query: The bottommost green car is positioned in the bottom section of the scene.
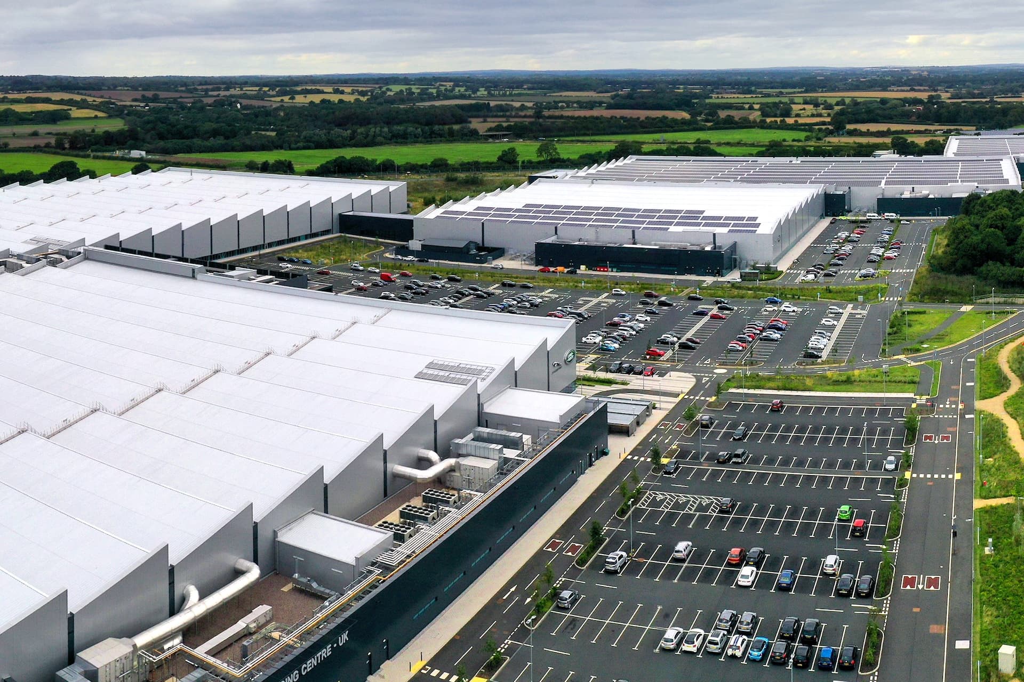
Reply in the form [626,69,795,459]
[836,506,853,522]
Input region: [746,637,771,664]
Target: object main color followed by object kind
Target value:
blue car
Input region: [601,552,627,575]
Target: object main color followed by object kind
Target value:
gray car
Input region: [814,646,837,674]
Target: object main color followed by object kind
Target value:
blue car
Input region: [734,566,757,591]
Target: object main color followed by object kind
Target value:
white car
